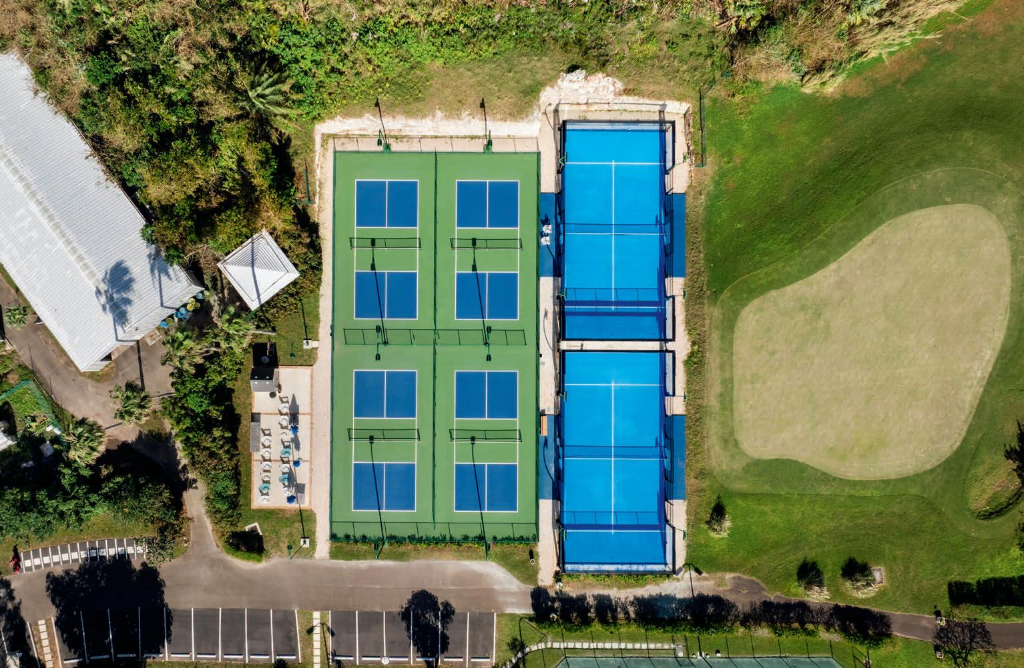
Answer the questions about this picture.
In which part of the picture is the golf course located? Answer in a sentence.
Look in the right portion of the view to spot the golf course.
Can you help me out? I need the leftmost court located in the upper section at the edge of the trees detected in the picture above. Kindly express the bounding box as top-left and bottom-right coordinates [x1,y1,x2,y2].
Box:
[333,150,435,344]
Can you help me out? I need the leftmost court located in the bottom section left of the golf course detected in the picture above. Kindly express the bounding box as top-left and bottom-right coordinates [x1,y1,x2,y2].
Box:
[331,344,434,540]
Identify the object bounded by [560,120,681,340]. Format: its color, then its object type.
blue sports court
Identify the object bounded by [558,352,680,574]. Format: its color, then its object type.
blue sports court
